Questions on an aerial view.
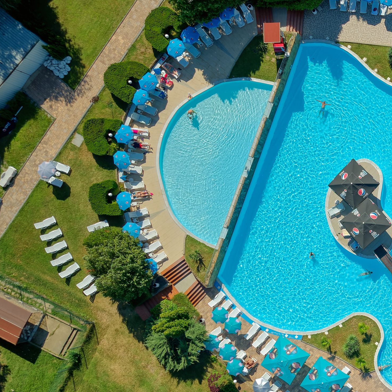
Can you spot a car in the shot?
No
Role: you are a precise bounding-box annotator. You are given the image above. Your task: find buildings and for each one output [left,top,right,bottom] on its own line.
[0,291,52,345]
[0,11,61,118]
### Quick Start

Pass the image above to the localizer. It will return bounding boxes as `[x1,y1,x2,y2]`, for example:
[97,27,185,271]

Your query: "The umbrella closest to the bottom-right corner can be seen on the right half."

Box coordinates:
[301,357,350,392]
